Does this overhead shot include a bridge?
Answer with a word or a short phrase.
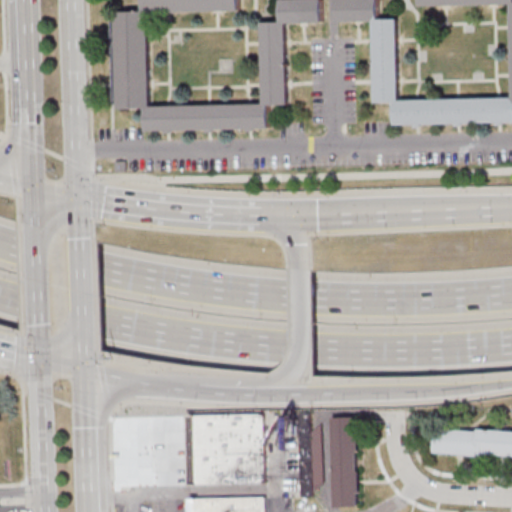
Yes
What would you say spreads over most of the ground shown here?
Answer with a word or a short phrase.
paved ground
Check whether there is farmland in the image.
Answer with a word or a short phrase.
No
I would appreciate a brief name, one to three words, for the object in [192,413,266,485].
building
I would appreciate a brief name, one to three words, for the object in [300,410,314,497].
shed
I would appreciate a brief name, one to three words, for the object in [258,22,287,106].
building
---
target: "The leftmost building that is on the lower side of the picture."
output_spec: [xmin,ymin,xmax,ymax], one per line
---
[113,416,188,491]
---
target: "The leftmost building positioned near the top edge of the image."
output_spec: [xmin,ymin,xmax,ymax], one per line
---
[110,11,150,108]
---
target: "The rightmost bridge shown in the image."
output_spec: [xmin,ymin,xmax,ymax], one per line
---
[269,267,314,376]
